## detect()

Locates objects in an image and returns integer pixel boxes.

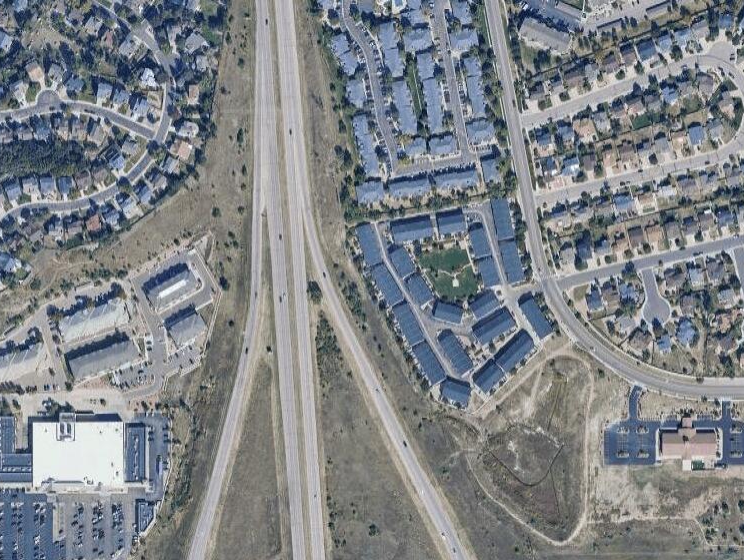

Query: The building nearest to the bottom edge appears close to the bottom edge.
[139,502,154,533]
